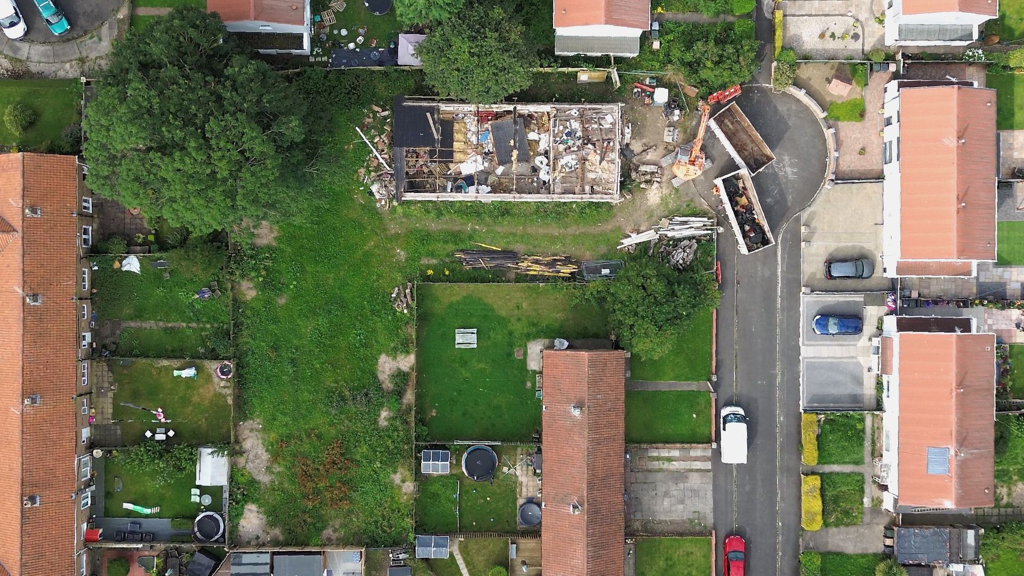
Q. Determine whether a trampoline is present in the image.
Yes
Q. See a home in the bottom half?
Yes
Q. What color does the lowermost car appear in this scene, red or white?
red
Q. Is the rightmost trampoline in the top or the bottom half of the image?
bottom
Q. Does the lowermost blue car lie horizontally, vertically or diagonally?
horizontally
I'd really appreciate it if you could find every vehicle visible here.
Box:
[811,311,863,337]
[722,533,748,576]
[823,256,874,281]
[656,98,714,186]
[0,0,28,40]
[720,405,750,465]
[32,0,70,33]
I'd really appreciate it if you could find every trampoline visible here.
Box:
[365,0,393,17]
[217,362,231,378]
[461,445,497,484]
[190,513,224,546]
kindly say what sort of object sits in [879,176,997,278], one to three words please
house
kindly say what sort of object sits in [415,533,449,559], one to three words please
greenhouse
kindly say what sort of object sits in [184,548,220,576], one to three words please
shed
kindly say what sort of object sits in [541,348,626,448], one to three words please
house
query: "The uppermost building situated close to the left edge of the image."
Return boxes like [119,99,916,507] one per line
[0,149,93,256]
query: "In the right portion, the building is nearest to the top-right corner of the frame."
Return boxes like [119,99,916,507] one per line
[886,0,999,47]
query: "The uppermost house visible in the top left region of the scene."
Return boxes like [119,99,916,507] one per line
[206,0,316,57]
